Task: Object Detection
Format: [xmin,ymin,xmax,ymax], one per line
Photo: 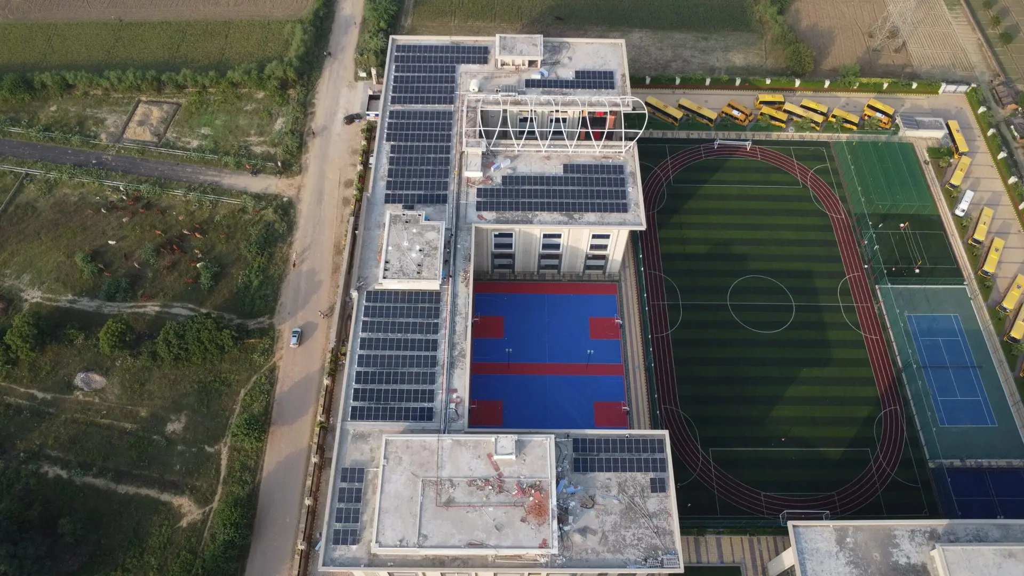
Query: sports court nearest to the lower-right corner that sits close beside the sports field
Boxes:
[929,468,1024,523]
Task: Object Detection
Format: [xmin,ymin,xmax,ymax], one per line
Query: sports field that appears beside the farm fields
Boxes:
[627,138,943,528]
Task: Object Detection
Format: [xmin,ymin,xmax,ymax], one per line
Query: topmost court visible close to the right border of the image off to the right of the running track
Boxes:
[906,314,997,426]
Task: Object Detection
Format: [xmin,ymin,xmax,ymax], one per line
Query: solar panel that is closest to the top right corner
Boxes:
[903,115,924,131]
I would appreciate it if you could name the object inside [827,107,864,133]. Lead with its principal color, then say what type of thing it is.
yellow bus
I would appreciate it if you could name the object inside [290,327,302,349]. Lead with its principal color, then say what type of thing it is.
gray vehicle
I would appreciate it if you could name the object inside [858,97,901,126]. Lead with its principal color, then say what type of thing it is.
yellow bus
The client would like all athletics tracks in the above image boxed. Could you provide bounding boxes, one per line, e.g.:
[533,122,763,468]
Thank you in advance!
[642,145,904,518]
